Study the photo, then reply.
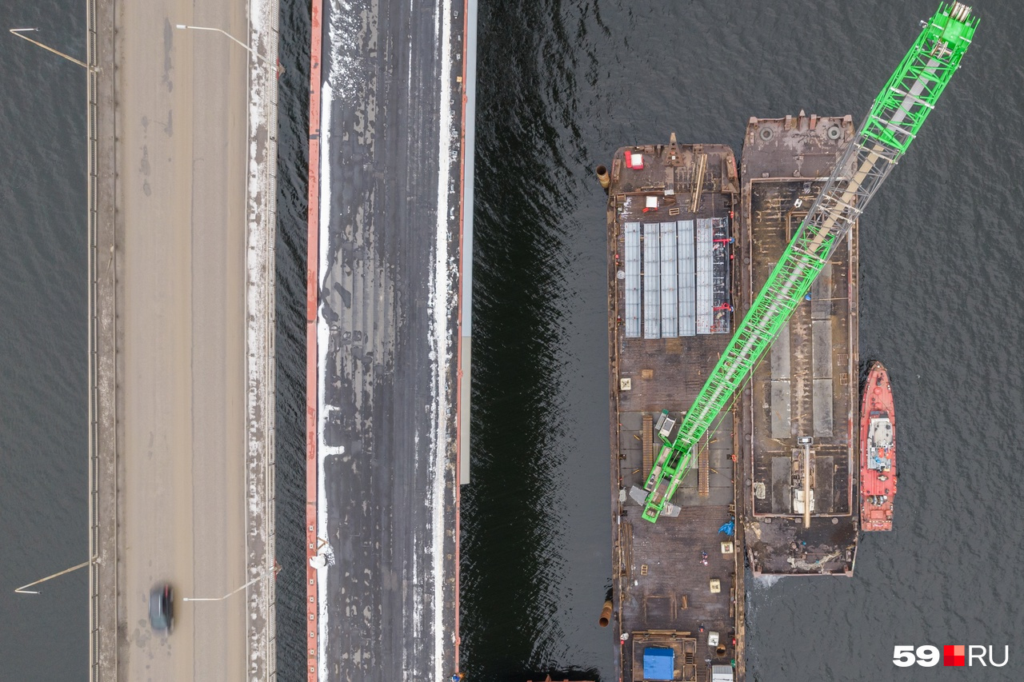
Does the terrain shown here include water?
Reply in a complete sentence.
Yes, some water is visible.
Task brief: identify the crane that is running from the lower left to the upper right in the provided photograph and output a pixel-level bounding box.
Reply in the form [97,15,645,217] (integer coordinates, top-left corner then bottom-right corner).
[629,0,981,523]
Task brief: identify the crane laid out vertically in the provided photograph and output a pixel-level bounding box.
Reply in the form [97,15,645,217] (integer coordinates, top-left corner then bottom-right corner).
[792,437,815,527]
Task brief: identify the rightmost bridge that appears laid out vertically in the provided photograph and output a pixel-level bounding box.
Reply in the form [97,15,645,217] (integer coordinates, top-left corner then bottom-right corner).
[307,0,480,682]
